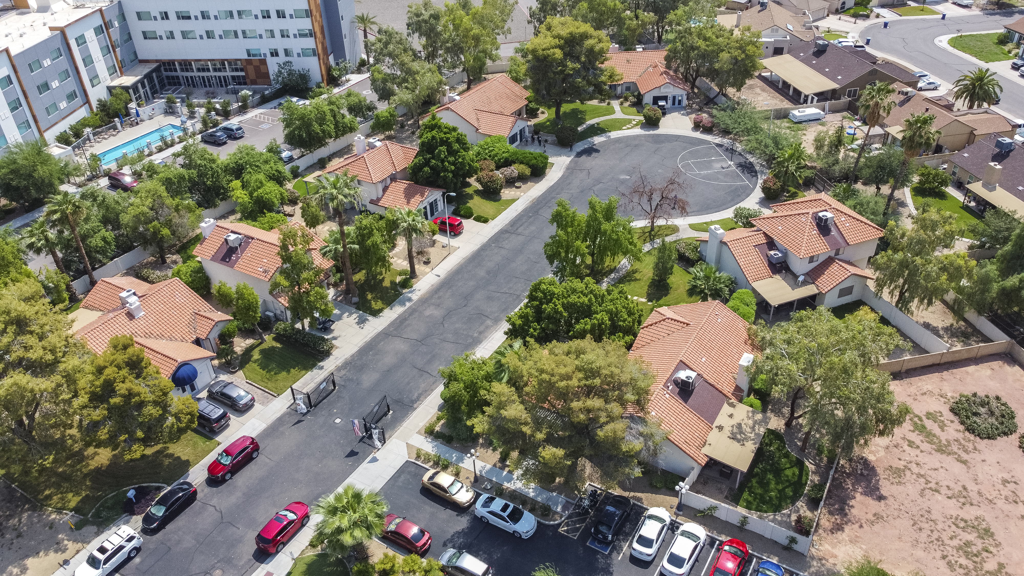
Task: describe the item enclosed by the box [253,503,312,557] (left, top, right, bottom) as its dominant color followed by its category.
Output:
red car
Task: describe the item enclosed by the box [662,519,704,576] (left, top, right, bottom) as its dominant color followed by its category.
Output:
white car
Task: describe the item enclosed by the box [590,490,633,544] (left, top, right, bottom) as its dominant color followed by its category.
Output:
black car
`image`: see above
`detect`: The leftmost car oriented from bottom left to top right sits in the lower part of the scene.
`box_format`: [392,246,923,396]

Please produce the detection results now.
[70,528,142,576]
